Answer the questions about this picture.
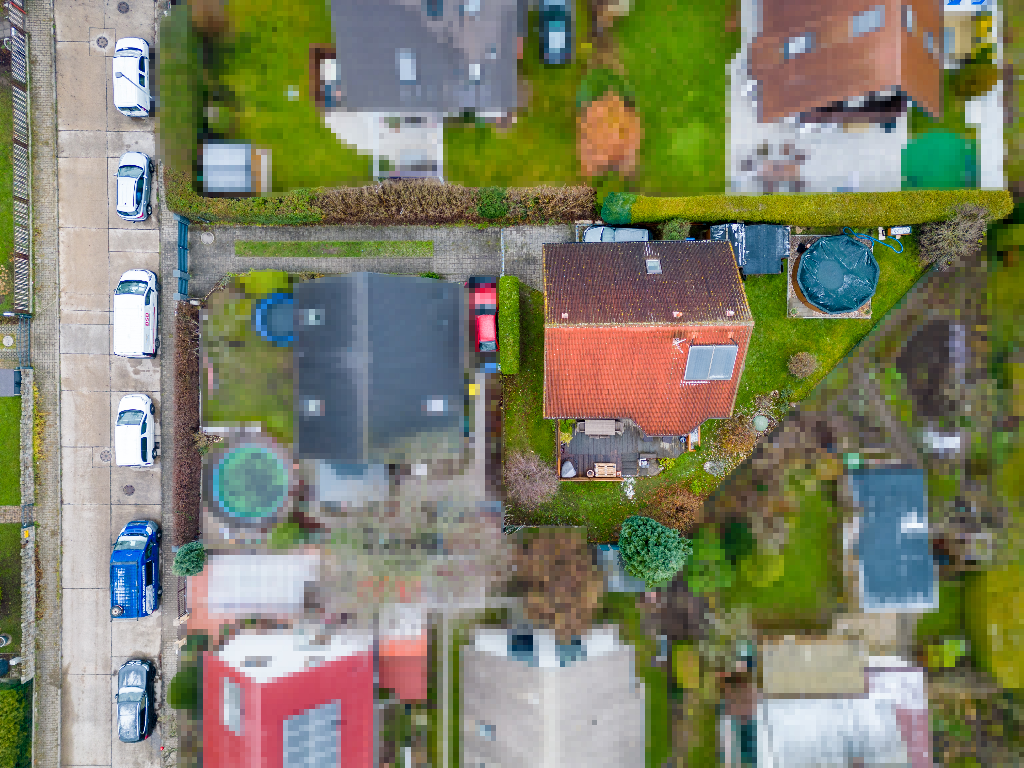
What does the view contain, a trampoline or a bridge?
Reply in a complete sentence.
Visible in the photo is a trampoline.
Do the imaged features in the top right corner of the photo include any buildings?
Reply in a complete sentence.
Yes, a building is visible in the top right corner of the photo.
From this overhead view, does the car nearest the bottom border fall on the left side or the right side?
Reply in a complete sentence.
The car nearest the bottom border appears in the left half of the scene.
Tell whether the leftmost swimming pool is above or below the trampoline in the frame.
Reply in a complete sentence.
Looking at the scene, the leftmost swimming pool is located below the trampoline.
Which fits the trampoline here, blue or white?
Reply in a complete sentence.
From above, the trampoline appears blue.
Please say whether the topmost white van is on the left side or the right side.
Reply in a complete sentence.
The topmost white van appears in the left half of the scene.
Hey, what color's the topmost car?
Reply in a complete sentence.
The topmost car is blue.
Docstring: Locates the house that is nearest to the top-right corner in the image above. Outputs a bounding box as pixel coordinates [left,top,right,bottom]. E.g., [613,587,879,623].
[745,0,947,127]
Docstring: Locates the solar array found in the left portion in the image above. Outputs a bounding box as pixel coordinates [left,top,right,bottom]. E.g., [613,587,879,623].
[286,687,342,768]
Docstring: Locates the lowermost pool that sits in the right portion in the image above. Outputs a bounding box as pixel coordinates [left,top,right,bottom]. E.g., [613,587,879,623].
[794,234,880,316]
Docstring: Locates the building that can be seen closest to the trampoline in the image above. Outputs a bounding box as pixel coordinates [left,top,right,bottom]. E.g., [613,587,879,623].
[293,271,468,466]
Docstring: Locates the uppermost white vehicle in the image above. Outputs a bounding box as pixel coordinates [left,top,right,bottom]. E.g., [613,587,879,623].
[107,36,154,118]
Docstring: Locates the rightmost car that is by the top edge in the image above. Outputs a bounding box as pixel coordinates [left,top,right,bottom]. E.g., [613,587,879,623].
[539,2,576,74]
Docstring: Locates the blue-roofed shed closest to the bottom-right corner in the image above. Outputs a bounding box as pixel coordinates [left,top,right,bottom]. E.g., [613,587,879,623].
[840,468,939,609]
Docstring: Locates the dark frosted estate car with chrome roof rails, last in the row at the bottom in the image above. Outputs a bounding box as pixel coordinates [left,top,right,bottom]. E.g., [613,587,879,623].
[113,658,160,744]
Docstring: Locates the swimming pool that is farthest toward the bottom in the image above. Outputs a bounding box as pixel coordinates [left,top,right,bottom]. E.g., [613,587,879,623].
[214,444,293,519]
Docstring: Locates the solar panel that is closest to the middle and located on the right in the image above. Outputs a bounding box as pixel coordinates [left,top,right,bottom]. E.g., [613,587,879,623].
[684,339,740,383]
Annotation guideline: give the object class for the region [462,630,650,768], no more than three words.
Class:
house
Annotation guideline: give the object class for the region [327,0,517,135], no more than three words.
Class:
house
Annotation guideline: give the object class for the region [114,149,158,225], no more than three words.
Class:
car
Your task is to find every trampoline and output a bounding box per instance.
[254,297,293,342]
